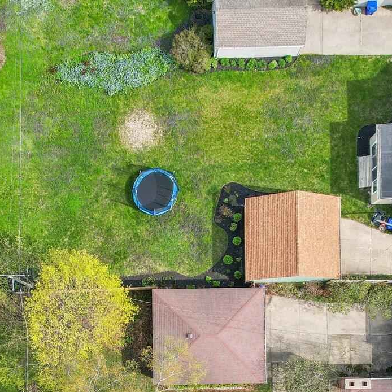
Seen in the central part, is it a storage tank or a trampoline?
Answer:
trampoline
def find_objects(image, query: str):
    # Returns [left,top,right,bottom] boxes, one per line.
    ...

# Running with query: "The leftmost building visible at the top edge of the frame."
[215,0,310,56]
